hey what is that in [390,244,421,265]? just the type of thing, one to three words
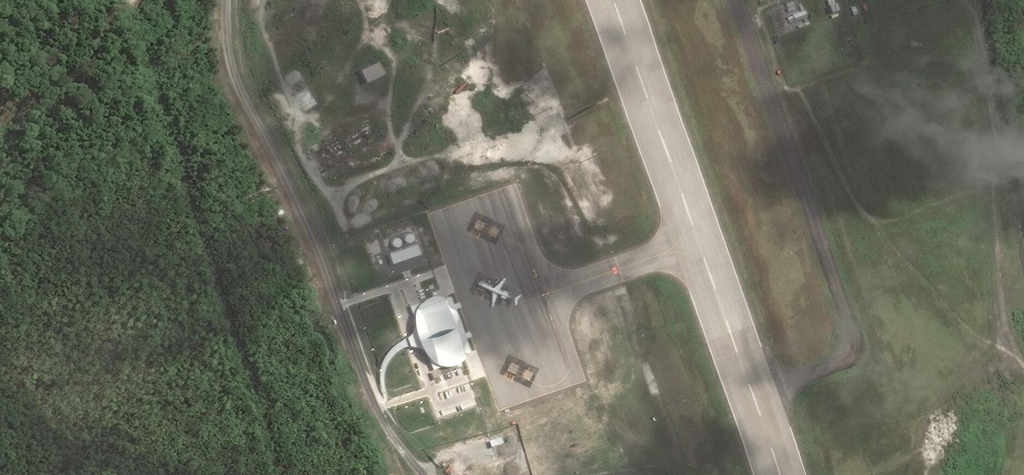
building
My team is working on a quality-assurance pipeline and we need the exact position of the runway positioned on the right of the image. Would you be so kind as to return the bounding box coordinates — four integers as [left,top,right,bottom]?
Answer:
[585,0,808,475]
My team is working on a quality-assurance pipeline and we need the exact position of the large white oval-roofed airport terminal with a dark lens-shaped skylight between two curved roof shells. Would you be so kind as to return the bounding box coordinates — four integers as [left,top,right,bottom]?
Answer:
[413,297,472,368]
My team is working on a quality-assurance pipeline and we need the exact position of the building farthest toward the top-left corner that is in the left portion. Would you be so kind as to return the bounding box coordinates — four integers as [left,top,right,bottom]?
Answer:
[286,70,318,111]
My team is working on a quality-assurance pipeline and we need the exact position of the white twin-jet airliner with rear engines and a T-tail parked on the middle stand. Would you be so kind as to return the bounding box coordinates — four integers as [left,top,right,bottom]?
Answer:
[478,279,521,308]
